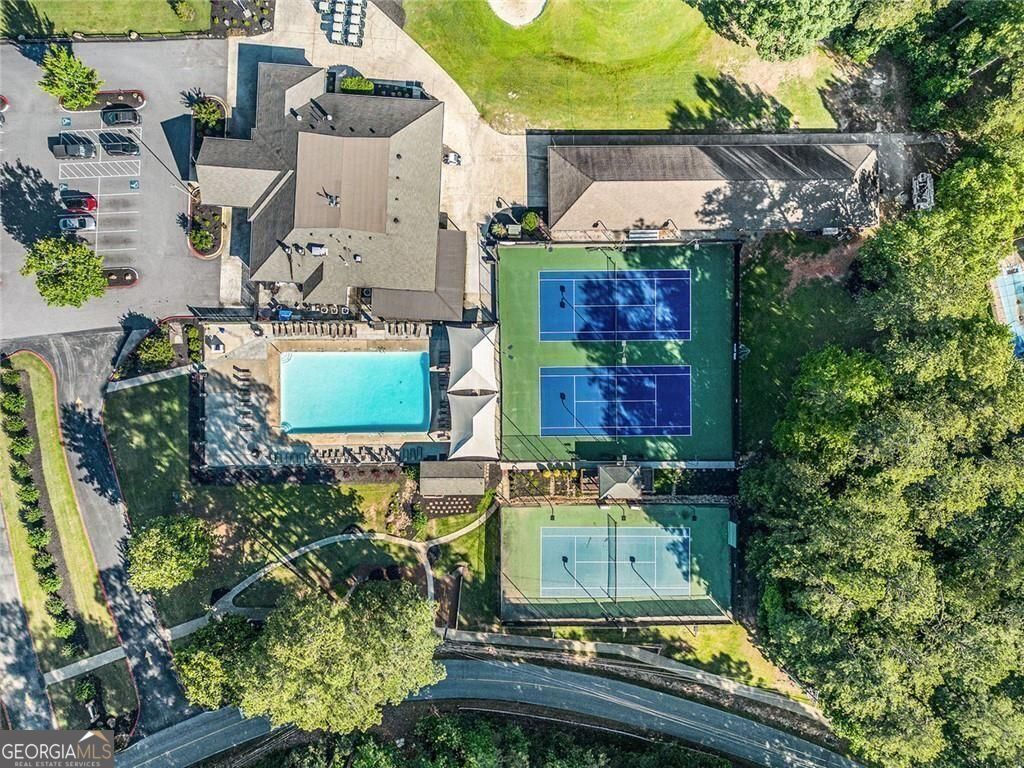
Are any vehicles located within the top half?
Yes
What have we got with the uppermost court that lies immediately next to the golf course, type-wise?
tennis court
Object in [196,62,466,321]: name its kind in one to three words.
building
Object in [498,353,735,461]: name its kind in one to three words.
tennis court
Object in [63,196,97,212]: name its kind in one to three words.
car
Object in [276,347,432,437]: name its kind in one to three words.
swimming pool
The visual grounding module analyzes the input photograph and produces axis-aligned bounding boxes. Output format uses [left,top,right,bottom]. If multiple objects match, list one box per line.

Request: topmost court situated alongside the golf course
[498,245,735,353]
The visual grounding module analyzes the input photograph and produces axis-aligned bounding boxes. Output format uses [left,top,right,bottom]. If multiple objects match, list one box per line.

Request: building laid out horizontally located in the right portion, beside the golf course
[549,144,880,231]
